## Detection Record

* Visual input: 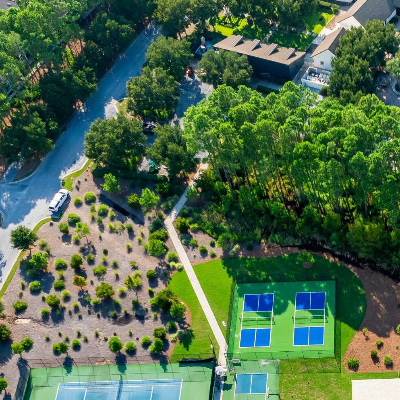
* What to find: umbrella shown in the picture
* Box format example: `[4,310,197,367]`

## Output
[214,365,229,378]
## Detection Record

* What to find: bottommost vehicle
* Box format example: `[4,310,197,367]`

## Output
[51,191,70,211]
